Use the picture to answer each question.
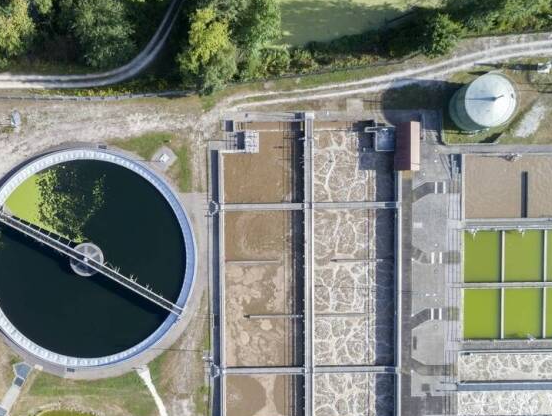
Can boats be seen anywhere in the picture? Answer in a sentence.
No, no boat is visible in the view.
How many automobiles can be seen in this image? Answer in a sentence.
No automobiles are visible.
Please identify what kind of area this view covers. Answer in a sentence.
It's an industrial area.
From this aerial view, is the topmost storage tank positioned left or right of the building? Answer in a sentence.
In the image, the topmost storage tank sits on the right side of the building.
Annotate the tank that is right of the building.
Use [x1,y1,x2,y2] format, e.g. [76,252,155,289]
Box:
[450,72,520,137]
